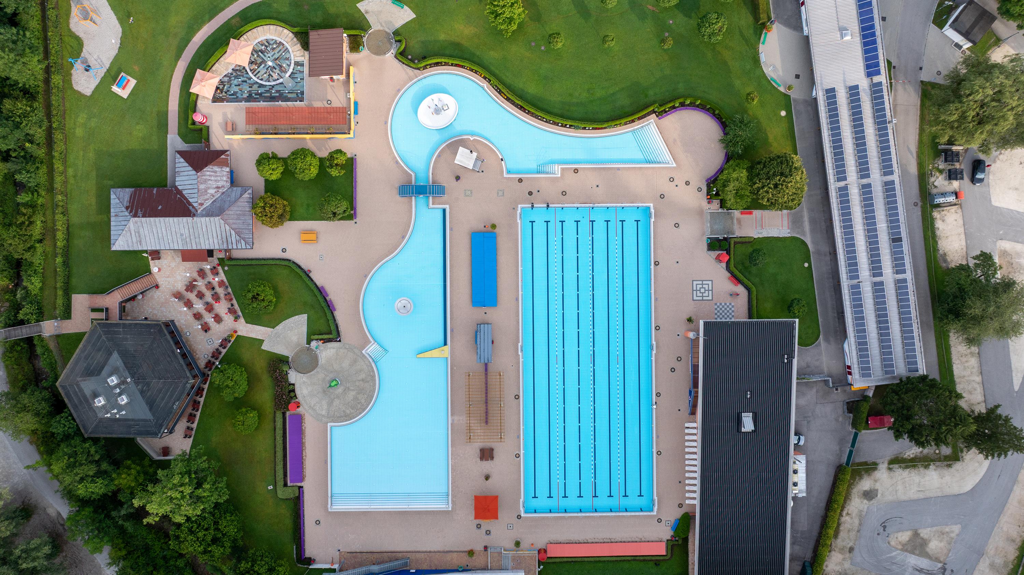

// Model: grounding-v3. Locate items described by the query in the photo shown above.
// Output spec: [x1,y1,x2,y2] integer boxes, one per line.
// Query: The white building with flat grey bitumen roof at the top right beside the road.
[940,0,996,53]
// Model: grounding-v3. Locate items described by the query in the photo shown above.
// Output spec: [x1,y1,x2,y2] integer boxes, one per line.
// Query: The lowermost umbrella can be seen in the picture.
[474,495,499,520]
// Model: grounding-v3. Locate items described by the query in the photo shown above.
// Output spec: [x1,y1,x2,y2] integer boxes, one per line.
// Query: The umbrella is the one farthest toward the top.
[224,36,254,68]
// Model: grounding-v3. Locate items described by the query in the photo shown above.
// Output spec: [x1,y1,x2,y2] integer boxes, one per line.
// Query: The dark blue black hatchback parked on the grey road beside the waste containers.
[972,159,990,186]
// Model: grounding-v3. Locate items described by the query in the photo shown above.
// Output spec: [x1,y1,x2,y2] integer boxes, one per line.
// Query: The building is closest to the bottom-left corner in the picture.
[55,318,207,458]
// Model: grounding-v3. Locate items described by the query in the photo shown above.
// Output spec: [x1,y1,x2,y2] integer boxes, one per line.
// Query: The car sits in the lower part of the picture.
[794,434,811,448]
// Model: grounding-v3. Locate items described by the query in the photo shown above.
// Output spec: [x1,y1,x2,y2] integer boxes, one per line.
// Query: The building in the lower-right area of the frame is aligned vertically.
[693,319,806,575]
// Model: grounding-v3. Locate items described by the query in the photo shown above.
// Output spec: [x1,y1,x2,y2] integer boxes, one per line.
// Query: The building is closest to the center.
[477,324,492,363]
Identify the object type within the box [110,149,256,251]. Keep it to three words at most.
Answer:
building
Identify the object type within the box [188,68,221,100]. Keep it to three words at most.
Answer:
umbrella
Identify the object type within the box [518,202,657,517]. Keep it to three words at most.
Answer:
swimming pool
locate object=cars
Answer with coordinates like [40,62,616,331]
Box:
[972,159,990,186]
[794,434,811,448]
